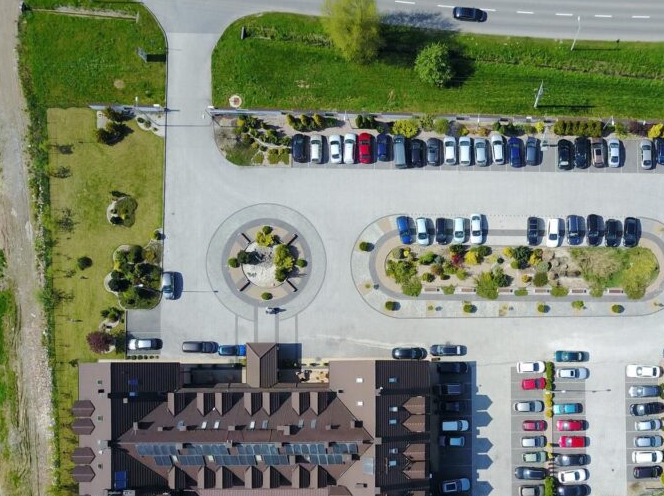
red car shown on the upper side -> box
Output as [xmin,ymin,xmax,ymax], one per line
[358,133,373,165]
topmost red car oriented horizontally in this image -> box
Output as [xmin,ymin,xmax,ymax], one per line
[520,377,547,390]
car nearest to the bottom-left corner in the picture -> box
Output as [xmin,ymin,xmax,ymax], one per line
[131,337,163,351]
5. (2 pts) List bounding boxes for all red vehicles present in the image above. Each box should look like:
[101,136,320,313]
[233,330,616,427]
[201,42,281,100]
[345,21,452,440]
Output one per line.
[559,435,586,448]
[557,419,585,432]
[358,133,373,165]
[520,377,547,390]
[522,419,547,432]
